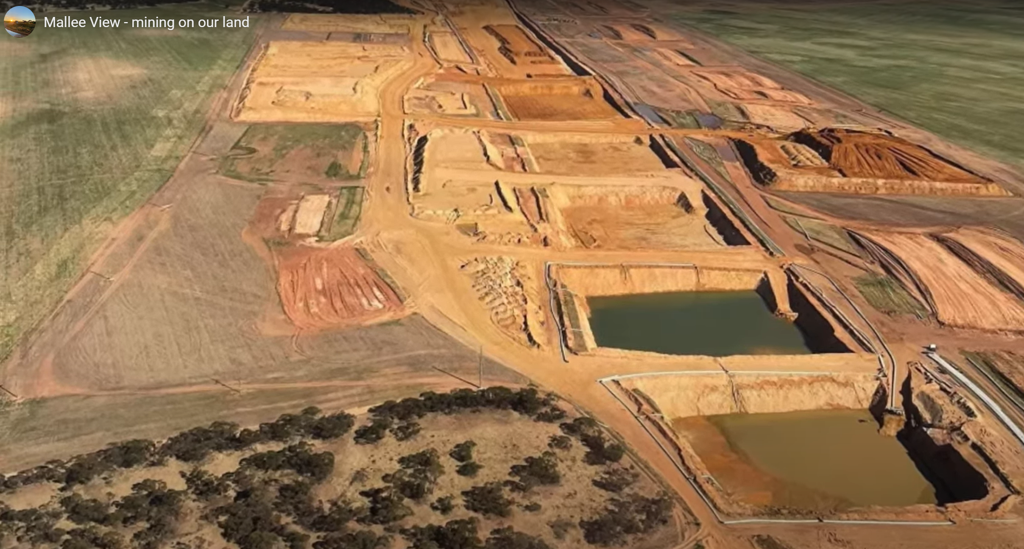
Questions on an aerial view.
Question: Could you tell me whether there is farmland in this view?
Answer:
Yes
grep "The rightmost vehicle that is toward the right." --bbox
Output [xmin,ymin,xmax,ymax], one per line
[925,341,939,355]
